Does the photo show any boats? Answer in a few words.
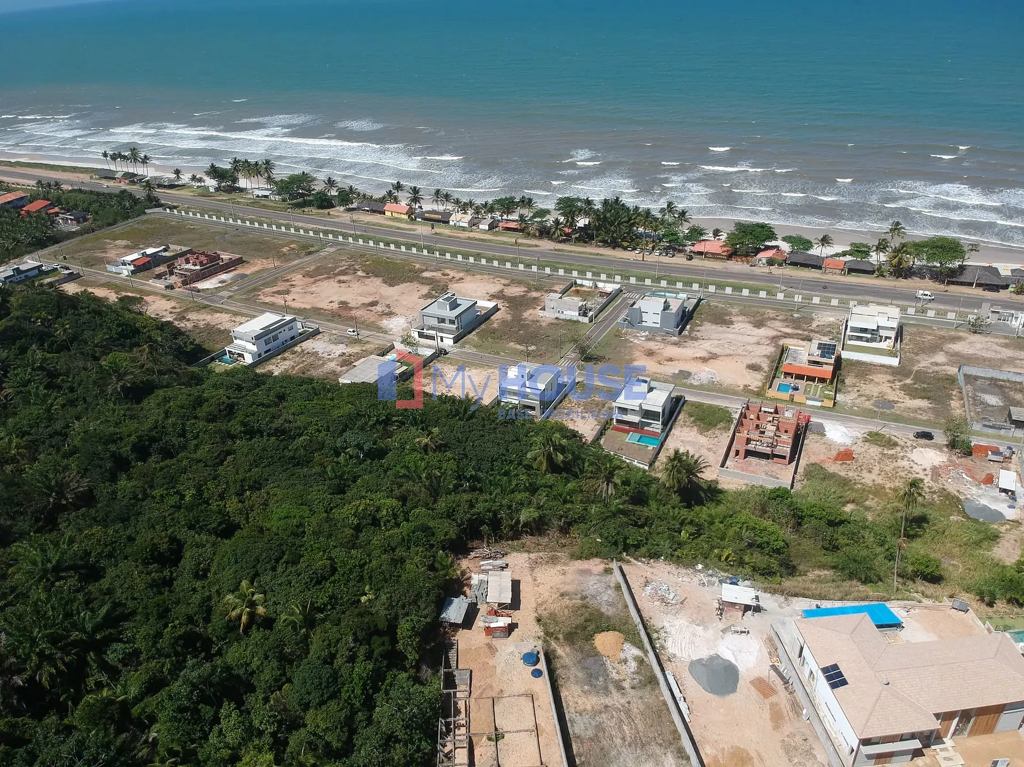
No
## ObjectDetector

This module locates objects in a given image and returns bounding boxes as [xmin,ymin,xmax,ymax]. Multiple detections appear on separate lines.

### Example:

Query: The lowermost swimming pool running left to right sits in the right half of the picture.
[621,435,658,452]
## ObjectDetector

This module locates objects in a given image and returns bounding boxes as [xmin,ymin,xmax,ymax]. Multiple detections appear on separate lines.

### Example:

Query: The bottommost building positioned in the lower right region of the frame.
[791,613,1024,764]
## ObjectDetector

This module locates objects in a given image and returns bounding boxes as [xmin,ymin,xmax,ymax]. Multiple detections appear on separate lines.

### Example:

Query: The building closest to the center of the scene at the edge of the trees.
[495,361,564,423]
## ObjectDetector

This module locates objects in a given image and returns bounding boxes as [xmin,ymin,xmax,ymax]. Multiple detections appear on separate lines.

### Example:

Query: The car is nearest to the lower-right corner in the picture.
[910,429,936,441]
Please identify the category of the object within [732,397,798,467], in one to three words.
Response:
house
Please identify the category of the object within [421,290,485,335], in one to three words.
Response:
house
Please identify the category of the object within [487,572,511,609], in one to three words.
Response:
shed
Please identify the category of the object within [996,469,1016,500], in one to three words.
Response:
shed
